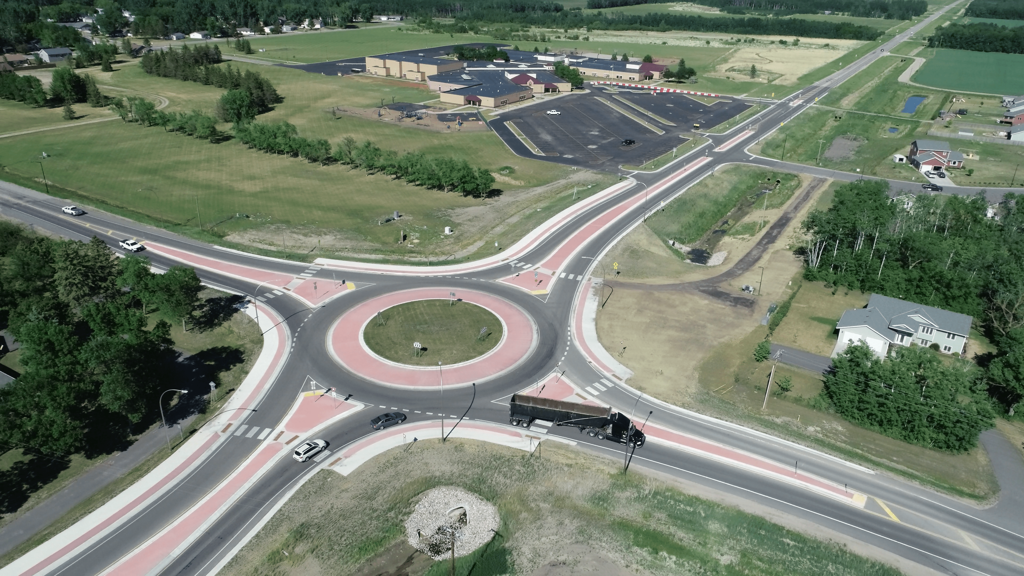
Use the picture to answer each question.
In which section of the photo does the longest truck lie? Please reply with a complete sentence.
Look in the bottom portion of the view to spot the longest truck.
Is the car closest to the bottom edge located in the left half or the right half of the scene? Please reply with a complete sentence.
It is on the left.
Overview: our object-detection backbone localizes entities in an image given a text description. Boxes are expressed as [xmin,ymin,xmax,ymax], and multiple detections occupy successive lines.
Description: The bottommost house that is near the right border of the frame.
[836,293,973,355]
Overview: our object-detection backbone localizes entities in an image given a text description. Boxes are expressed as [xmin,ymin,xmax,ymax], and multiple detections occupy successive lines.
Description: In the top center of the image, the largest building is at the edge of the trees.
[366,50,665,109]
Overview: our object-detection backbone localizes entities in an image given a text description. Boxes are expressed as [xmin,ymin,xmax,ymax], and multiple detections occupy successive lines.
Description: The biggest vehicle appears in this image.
[506,397,645,447]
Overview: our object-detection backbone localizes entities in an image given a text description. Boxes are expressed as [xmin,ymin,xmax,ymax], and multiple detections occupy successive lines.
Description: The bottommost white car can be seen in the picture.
[292,438,328,462]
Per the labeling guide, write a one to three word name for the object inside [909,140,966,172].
house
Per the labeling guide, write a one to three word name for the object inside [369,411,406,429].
car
